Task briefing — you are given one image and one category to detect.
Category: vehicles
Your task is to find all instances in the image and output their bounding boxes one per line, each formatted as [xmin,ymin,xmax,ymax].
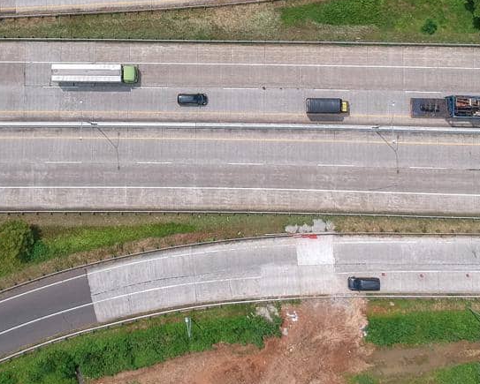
[176,93,207,106]
[51,64,140,85]
[305,97,350,114]
[410,97,480,118]
[347,276,382,293]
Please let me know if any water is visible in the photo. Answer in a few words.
No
